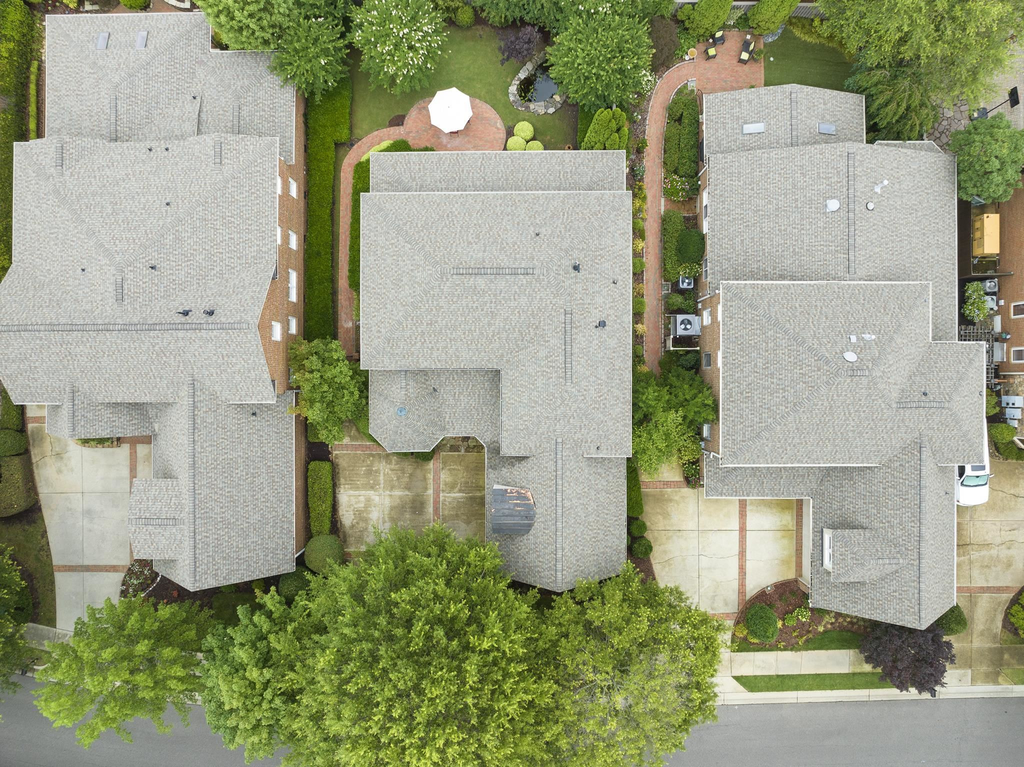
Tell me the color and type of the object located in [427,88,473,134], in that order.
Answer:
white umbrella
